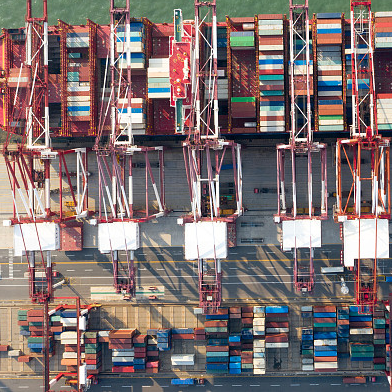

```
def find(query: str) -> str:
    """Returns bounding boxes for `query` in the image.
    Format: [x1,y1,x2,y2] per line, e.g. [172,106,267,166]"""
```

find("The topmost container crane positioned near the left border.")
[0,0,109,308]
